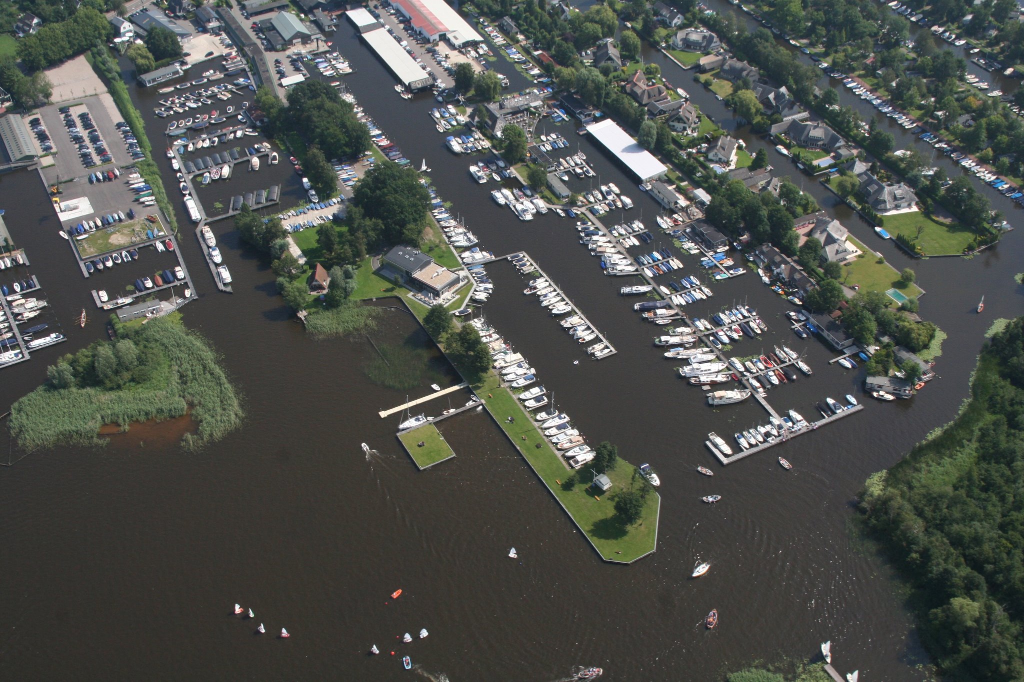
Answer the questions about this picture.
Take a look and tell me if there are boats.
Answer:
Yes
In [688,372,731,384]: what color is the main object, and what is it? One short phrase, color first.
white ship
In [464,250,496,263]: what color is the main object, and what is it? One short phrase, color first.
white boat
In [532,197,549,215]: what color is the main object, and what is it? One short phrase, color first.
white boat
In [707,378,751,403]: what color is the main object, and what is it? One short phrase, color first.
white ship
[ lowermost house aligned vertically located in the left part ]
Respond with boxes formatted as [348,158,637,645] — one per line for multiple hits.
[307,258,330,298]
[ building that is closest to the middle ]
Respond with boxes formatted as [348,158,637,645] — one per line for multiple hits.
[384,245,456,297]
